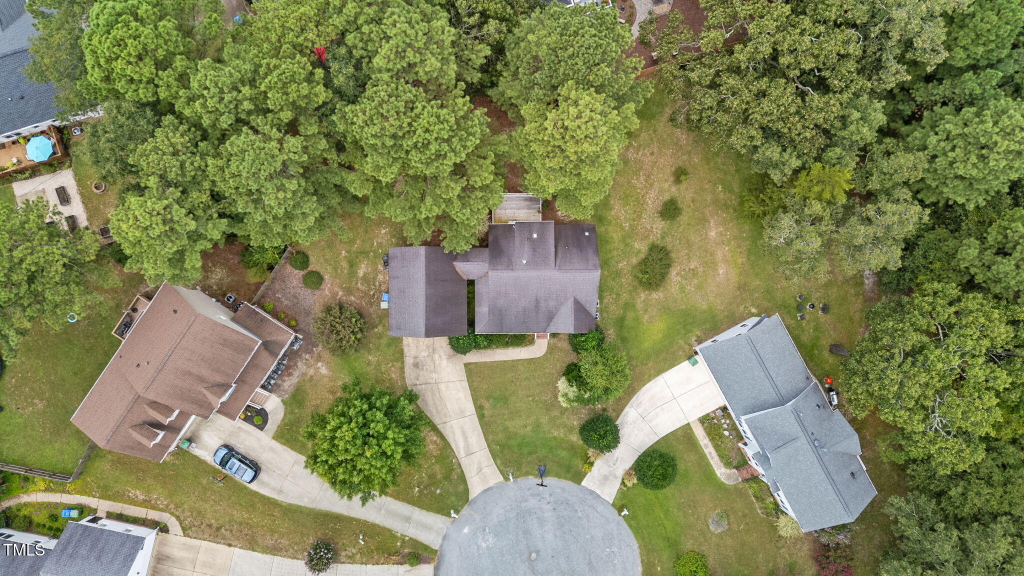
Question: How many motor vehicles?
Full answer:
I count 1 motor vehicle.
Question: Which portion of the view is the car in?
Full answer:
The car is located in the bottom left region of the scene.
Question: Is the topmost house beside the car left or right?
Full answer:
The topmost house beside the car is on the left side of the image.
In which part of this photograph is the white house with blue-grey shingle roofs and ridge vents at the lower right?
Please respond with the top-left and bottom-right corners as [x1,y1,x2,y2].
[695,311,878,532]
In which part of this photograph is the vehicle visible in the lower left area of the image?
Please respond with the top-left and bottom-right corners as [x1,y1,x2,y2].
[210,443,265,488]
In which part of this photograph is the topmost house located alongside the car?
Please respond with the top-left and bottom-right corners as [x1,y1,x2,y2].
[75,283,297,463]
